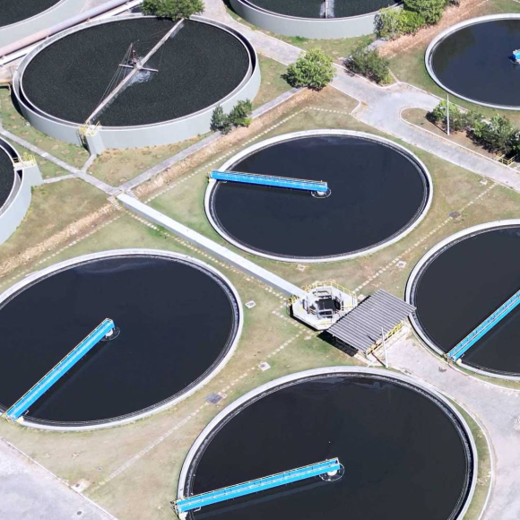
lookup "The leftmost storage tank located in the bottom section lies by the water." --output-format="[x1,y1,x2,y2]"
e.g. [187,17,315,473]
[0,250,241,430]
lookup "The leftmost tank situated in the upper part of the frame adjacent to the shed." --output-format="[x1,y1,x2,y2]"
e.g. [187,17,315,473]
[203,129,433,263]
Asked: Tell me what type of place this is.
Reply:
industrial area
